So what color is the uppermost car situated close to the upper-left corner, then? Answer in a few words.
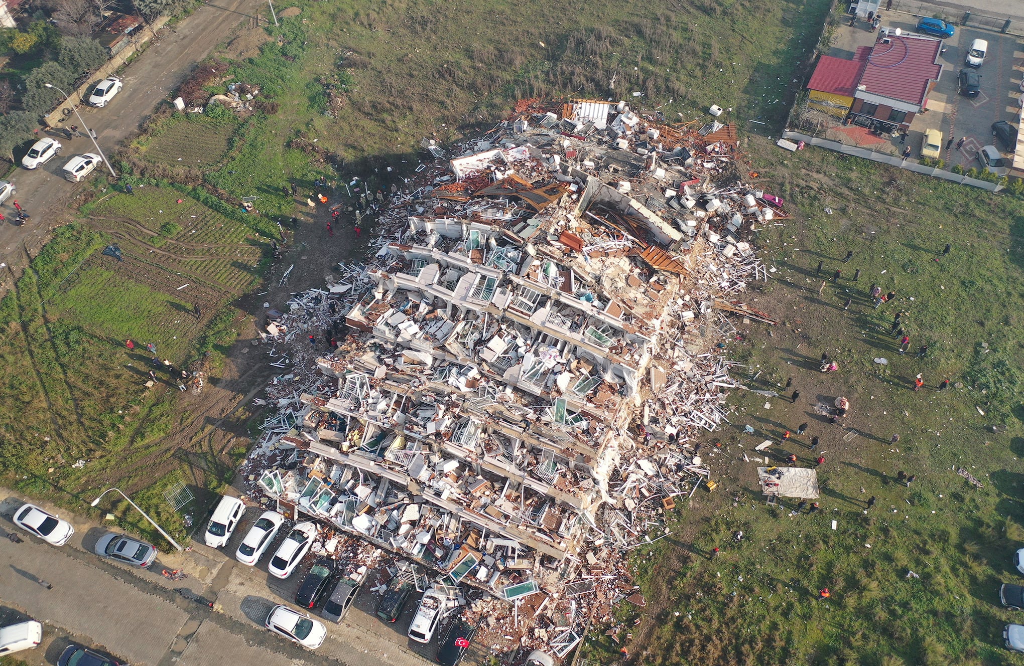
white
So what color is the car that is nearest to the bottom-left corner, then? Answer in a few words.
white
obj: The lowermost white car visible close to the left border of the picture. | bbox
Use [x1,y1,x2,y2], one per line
[0,620,54,661]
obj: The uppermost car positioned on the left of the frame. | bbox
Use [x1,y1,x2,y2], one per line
[86,79,123,109]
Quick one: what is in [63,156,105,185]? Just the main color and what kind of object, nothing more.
white car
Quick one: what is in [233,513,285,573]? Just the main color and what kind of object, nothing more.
white car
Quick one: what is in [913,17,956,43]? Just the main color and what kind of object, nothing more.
blue car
